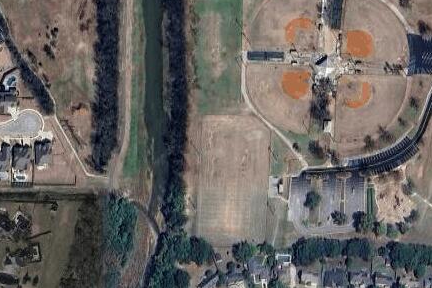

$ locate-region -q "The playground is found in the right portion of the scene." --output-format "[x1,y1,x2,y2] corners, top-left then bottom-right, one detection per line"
[378,179,417,222]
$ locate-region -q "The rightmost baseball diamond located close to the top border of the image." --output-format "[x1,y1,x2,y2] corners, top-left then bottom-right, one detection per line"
[345,0,407,61]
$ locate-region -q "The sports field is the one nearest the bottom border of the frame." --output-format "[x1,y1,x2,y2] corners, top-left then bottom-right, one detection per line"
[197,116,269,239]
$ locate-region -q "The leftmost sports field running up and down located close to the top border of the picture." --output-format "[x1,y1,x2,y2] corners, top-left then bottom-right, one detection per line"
[195,0,242,113]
